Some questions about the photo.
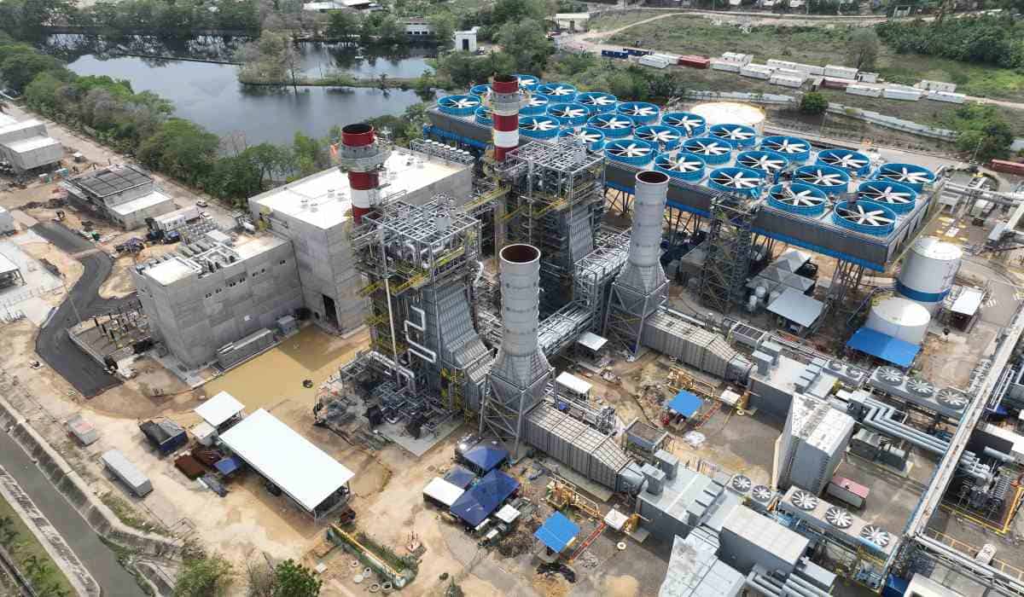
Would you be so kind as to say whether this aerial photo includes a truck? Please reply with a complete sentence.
Yes, there's a truck down there.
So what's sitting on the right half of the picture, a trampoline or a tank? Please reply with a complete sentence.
There is a tank on the right half of the picture.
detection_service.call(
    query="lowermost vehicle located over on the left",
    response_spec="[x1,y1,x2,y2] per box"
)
[330,501,363,528]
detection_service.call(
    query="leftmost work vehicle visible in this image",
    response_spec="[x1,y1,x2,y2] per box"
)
[49,203,68,223]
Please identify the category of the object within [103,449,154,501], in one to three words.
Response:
trailer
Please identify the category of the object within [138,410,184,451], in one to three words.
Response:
truck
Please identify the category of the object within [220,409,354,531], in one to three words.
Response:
shed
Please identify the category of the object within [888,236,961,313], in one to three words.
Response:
storage tank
